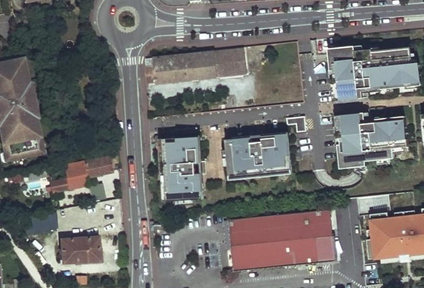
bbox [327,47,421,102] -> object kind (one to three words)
building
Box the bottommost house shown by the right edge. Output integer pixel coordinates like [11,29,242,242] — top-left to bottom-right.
[367,208,424,264]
